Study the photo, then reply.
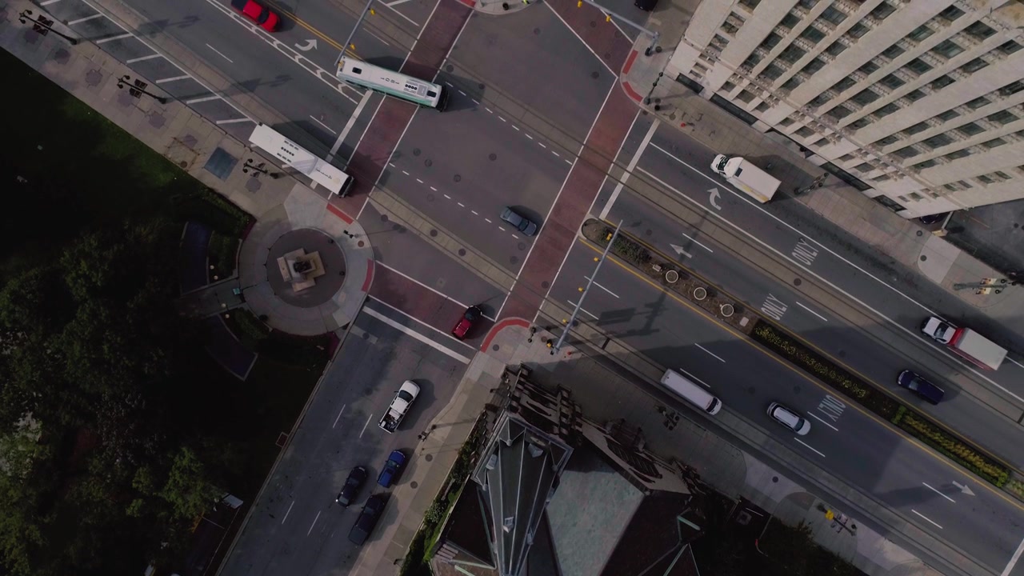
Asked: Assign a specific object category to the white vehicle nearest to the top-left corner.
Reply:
bus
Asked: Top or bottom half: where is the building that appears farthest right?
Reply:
top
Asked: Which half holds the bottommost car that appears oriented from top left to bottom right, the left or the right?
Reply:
right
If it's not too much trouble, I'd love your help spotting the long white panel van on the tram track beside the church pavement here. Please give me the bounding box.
[661,369,722,414]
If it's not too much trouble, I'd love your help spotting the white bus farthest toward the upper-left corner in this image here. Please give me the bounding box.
[247,123,352,196]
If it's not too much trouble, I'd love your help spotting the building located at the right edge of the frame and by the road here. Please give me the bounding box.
[665,0,1024,220]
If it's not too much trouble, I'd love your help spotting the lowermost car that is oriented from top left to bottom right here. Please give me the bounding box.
[767,403,812,438]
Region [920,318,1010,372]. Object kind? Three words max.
truck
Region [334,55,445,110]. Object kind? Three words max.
bus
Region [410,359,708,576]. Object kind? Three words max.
church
